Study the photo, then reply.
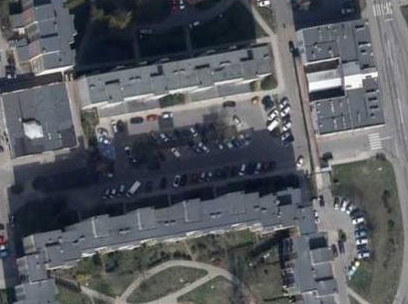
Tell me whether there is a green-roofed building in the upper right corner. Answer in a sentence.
No, no green-roofed building can be made out in the upper right corner.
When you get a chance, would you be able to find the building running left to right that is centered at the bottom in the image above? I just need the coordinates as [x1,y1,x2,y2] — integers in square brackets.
[21,189,305,272]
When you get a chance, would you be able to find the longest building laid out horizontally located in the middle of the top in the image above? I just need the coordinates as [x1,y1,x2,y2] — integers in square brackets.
[79,44,275,113]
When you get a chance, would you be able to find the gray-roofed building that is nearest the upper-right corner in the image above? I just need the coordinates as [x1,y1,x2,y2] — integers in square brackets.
[296,16,385,136]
